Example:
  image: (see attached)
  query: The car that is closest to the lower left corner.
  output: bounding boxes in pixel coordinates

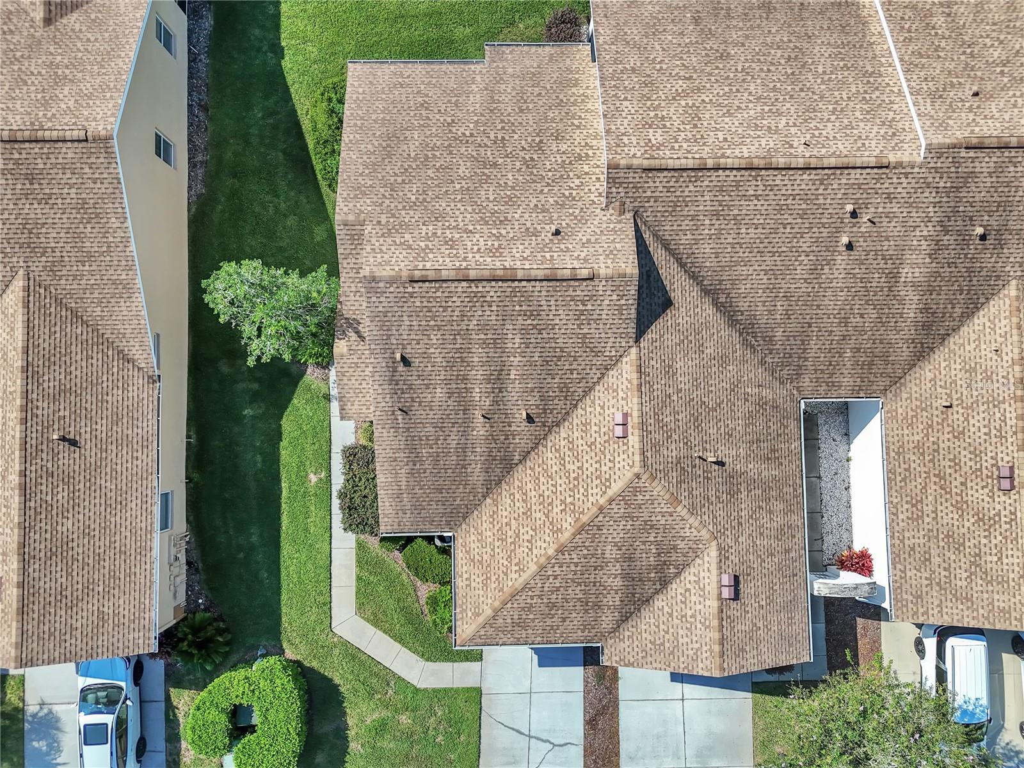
[67,656,145,768]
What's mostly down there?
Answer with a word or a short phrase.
buildings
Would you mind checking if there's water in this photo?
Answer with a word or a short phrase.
No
